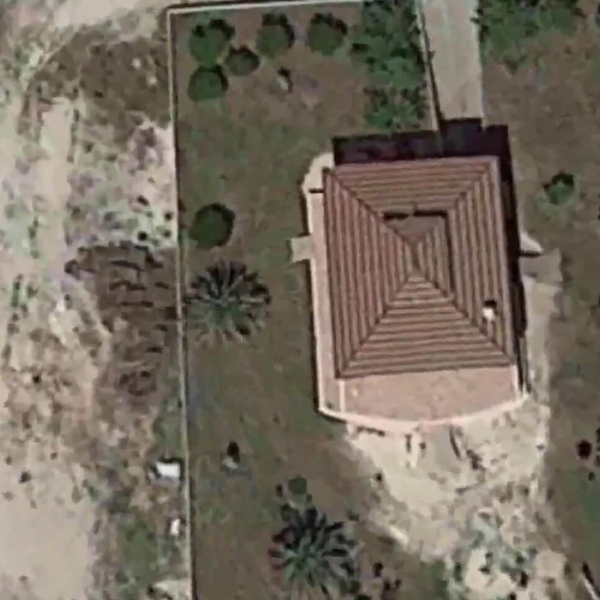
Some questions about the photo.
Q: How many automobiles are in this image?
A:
zero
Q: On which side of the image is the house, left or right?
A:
right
